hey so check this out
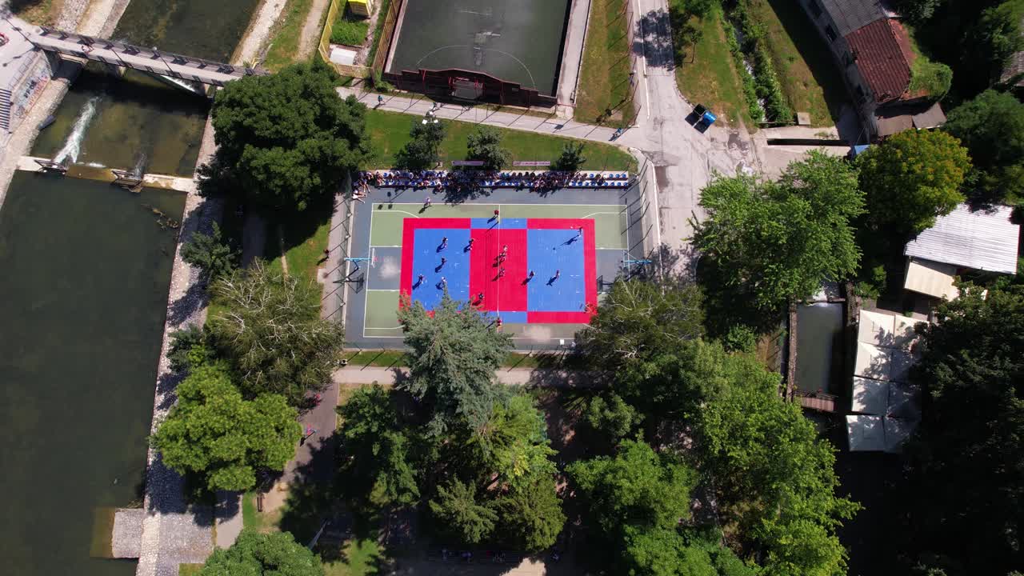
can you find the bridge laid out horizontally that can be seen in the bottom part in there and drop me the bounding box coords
[789,395,840,412]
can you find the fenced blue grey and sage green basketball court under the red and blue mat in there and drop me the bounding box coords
[345,184,646,353]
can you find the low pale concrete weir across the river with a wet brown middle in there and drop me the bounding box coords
[14,155,194,192]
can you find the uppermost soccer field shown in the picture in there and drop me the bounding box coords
[383,0,591,120]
